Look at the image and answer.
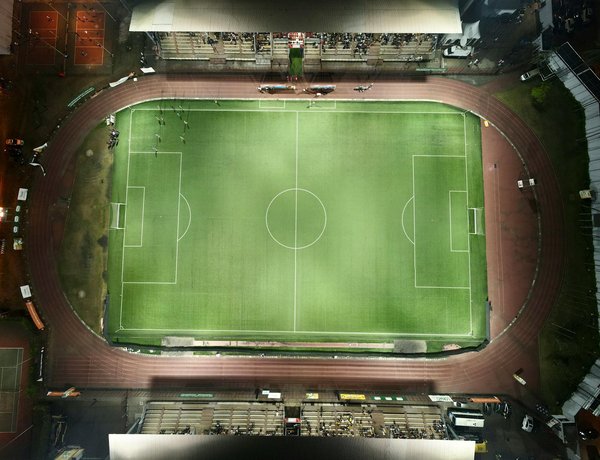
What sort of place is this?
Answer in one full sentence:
The picture captures a sports ground.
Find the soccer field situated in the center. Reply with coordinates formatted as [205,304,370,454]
[106,100,488,355]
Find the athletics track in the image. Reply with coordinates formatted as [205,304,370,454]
[27,74,566,396]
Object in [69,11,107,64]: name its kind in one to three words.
sports court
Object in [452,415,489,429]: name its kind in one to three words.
vehicle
